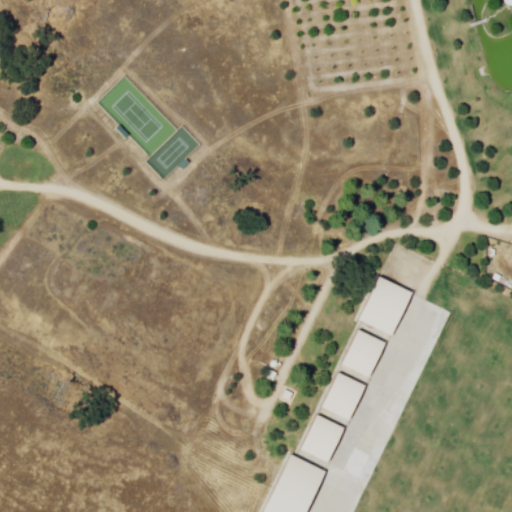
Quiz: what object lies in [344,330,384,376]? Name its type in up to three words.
hangar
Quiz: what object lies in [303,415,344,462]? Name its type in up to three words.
hangar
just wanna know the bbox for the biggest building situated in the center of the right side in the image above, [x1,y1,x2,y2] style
[358,276,412,334]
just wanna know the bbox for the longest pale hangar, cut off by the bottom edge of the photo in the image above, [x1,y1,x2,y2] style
[266,456,327,512]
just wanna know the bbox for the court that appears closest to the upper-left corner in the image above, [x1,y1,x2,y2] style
[98,76,178,156]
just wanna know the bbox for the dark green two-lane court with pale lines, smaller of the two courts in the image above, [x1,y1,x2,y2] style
[146,126,200,180]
